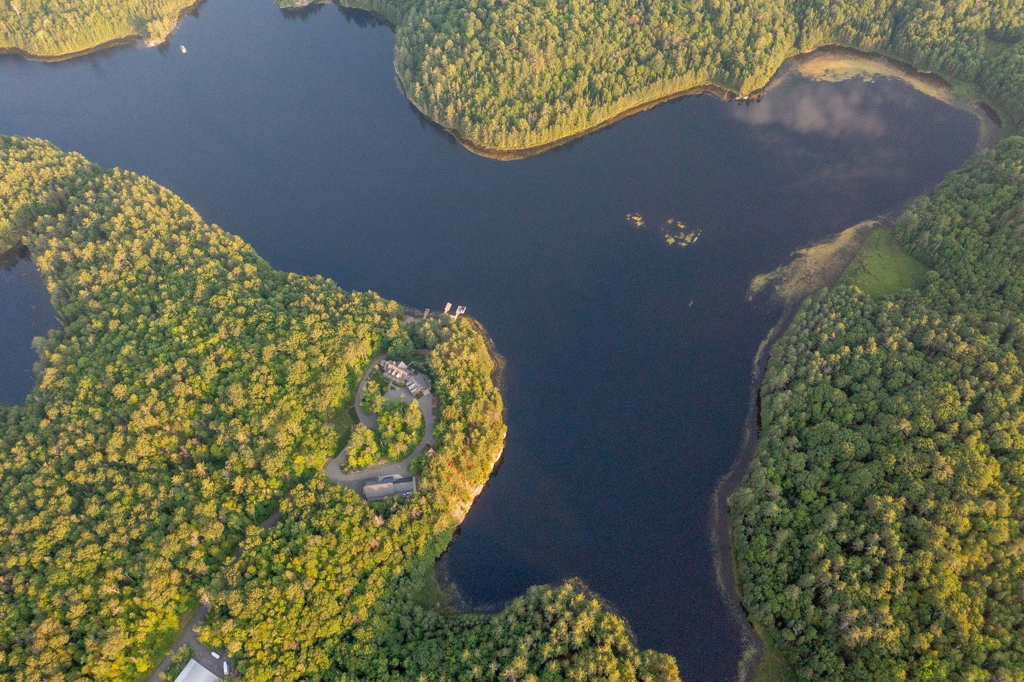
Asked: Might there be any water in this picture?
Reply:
Yes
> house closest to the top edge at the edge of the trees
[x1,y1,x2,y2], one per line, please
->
[378,362,430,400]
